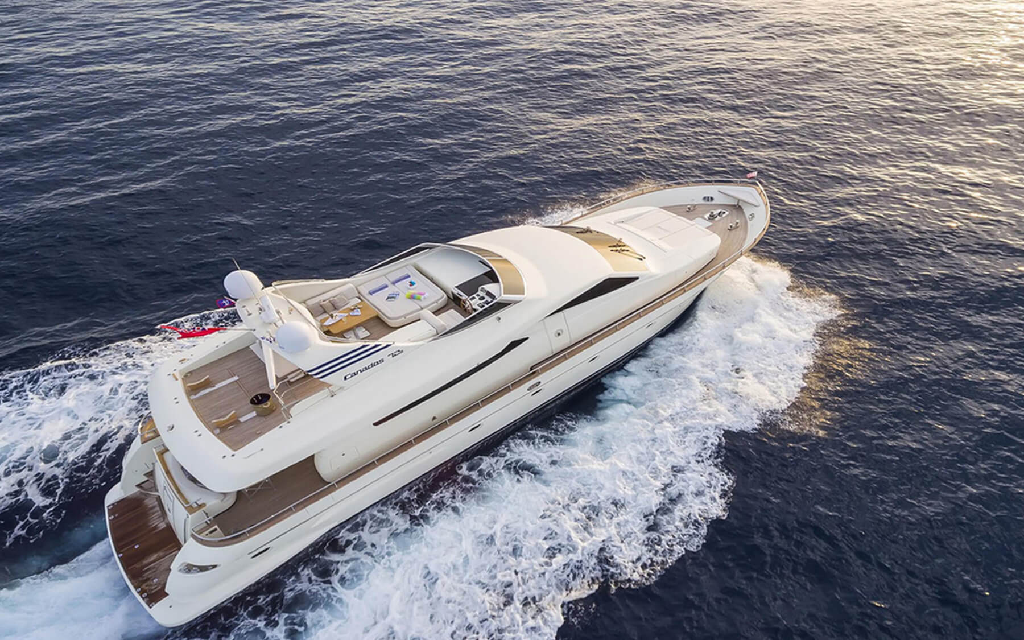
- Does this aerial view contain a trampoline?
No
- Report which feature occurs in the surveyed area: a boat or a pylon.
boat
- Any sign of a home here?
No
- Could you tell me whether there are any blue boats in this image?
No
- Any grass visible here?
No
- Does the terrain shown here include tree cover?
No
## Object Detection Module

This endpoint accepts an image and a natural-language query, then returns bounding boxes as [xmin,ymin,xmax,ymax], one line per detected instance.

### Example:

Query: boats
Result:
[104,175,770,629]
